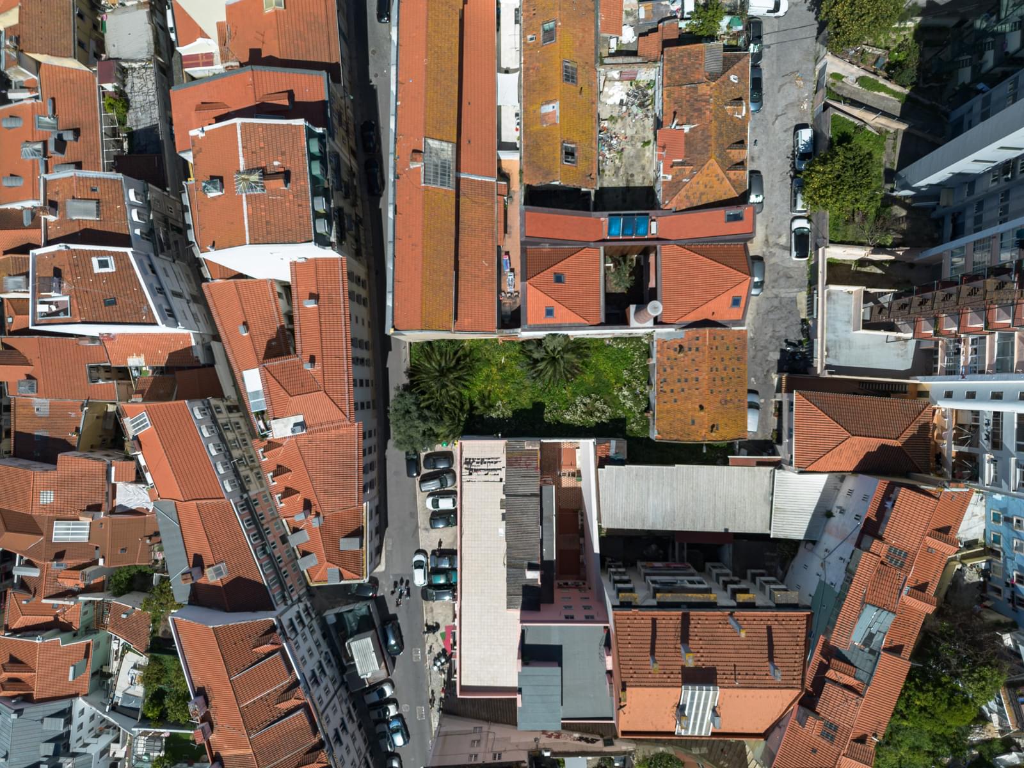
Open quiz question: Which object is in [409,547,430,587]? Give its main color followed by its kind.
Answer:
white car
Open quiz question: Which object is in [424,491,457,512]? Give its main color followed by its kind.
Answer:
white car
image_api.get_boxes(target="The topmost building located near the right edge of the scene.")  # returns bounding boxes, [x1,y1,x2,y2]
[886,0,1024,194]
